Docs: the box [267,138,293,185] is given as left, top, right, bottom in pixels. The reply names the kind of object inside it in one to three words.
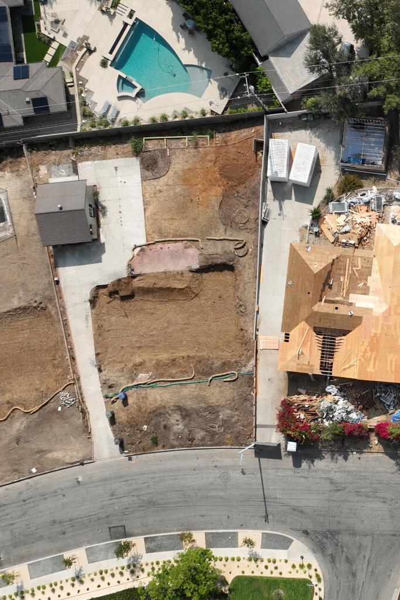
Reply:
shipping container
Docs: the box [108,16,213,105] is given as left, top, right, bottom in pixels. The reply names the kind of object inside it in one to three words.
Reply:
swimming pool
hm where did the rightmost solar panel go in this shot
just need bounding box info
[31,97,49,113]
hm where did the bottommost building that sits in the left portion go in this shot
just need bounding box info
[34,180,102,248]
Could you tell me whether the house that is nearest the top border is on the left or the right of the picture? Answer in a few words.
right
